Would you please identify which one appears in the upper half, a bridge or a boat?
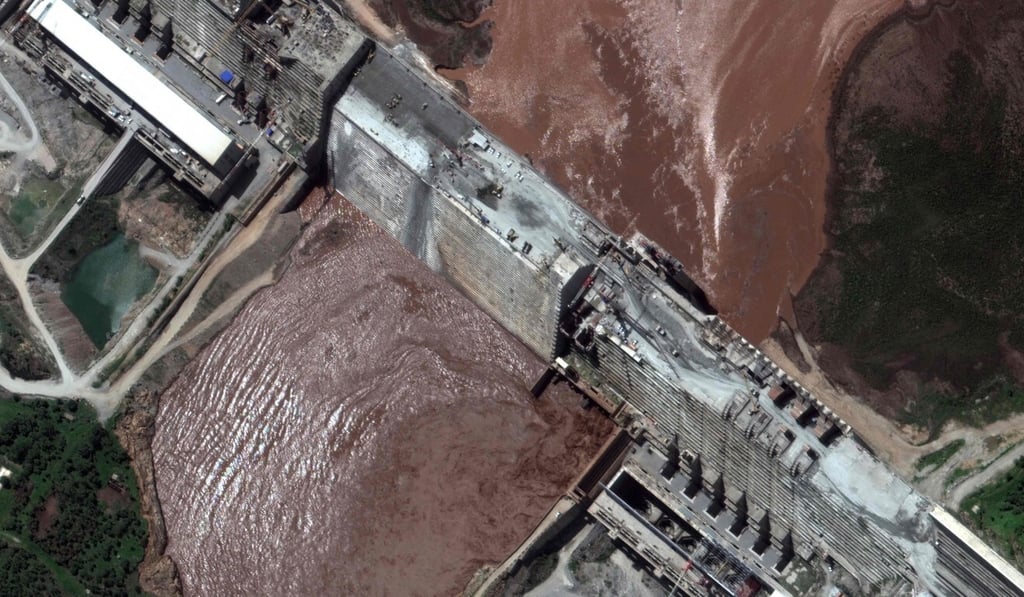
bridge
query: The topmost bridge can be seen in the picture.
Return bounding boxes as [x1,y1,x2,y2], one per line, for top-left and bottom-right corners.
[80,127,140,202]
